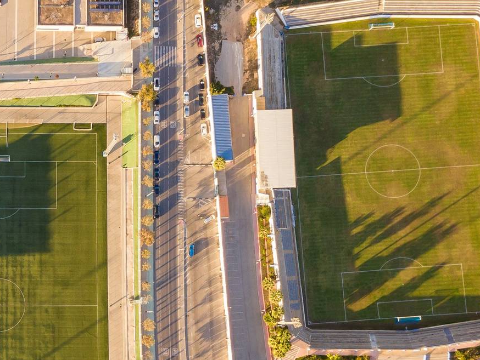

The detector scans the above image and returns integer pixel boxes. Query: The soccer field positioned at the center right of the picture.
[284,19,480,329]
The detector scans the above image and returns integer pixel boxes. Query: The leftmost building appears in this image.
[35,0,76,32]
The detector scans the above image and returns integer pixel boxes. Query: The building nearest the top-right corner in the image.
[259,5,286,30]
